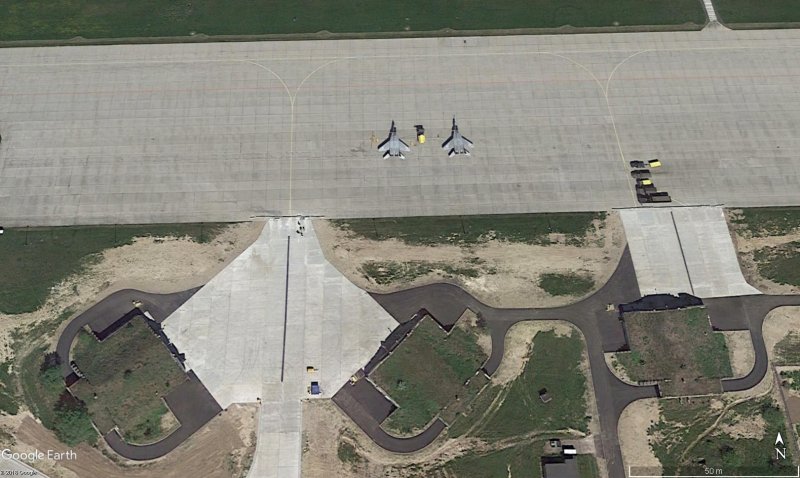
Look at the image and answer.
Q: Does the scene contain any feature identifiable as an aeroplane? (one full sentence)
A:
Yes, this view includes an aeroplane.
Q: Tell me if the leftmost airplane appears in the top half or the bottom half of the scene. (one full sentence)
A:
The leftmost airplane is in the top half of the image.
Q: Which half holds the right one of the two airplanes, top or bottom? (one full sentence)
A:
The top half of the photo is where the right one of the two airplanes is.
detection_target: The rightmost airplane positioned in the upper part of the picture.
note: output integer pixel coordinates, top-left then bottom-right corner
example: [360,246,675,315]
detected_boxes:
[442,120,474,156]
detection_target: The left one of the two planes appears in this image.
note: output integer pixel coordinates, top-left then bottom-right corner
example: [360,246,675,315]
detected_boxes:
[379,124,411,160]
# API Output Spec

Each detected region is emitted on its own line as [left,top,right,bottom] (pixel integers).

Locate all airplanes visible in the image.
[442,120,474,156]
[379,124,411,160]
